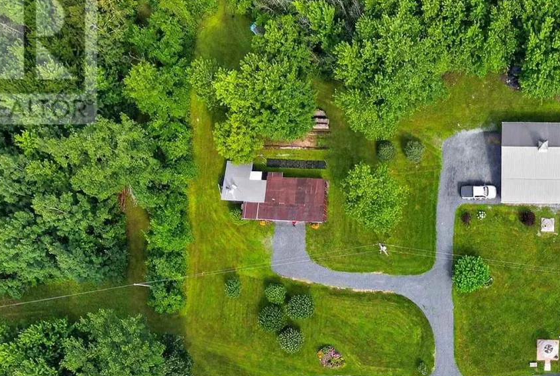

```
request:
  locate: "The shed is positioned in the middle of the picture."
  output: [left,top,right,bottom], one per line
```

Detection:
[222,162,329,223]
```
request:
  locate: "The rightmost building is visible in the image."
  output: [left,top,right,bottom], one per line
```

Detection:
[502,121,560,206]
